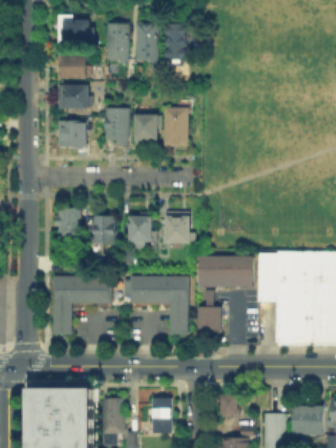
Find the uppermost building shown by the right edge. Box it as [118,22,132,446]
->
[260,251,336,346]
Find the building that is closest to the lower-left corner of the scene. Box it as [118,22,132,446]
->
[22,388,95,448]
